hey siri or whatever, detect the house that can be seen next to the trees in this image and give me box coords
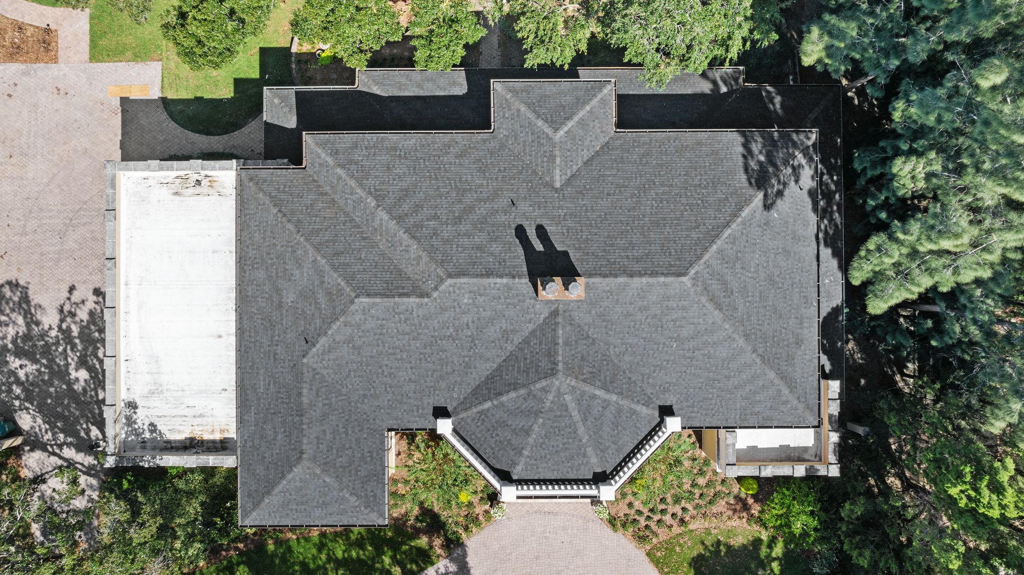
[91,67,843,529]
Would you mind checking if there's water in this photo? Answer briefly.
No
